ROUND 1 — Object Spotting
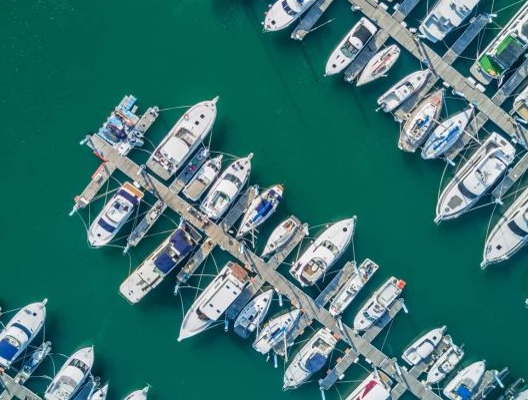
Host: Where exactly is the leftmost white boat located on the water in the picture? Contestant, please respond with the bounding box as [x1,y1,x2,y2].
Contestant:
[0,299,46,366]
